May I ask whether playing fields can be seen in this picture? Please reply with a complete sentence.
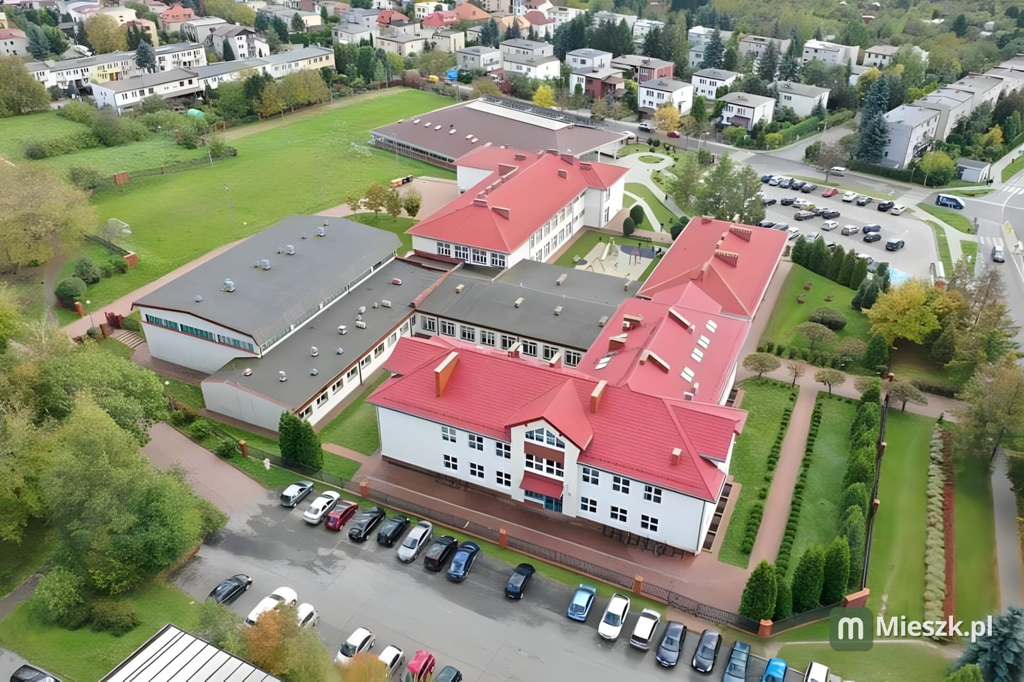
Yes, the photo shows a playing field.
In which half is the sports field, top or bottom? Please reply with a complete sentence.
The sports field sits in the top half of the picture.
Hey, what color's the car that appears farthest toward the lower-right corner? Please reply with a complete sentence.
In this view, the car that appears farthest toward the lower-right corner is white.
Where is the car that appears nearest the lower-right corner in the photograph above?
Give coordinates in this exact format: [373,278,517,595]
[799,655,833,682]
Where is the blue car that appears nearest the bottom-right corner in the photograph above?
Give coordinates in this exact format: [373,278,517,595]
[760,654,794,682]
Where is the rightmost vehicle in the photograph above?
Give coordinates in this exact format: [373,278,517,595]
[989,247,1005,263]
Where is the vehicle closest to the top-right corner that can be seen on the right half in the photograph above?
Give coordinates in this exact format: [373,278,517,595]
[932,190,968,211]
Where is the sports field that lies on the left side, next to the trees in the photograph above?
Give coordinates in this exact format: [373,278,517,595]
[57,88,457,331]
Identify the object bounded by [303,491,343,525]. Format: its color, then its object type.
white car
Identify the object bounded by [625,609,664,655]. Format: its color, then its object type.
white car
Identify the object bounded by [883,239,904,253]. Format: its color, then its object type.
gray car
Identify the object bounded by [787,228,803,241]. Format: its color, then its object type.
white vehicle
